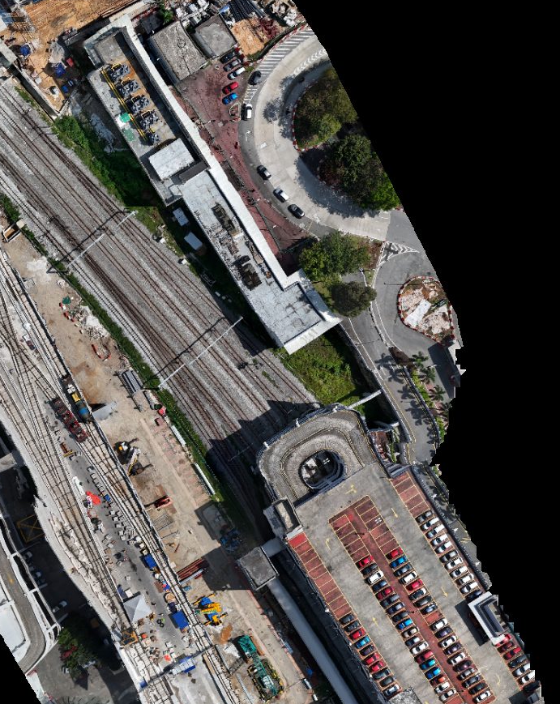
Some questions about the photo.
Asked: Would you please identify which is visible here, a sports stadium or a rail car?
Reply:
rail car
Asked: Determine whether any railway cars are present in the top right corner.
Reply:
No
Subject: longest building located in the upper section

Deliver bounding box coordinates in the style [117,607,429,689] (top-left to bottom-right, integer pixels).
[82,17,341,353]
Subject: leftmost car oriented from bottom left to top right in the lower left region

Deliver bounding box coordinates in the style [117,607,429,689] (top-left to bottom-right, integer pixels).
[51,599,68,613]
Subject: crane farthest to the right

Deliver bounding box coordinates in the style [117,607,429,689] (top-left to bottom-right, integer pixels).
[234,634,282,697]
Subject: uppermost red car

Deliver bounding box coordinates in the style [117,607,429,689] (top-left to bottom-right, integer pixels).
[222,81,238,94]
